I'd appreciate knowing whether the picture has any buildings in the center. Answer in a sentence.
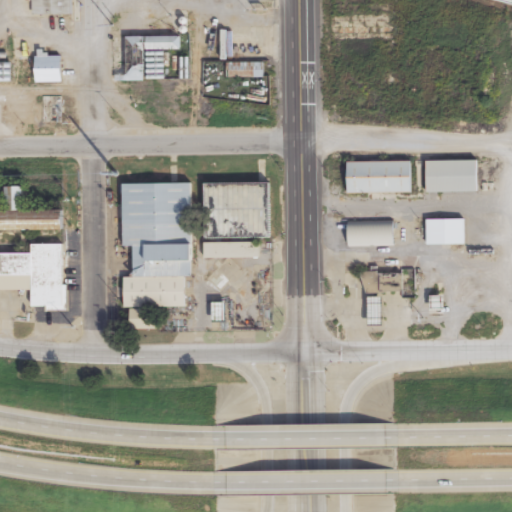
Yes, I can see a building in the center.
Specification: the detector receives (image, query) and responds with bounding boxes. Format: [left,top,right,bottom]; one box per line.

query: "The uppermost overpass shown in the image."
[218,423,394,449]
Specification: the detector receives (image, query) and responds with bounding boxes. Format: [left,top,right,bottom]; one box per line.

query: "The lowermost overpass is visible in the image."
[218,470,394,495]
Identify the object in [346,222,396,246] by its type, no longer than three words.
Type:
shed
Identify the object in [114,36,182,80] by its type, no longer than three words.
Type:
building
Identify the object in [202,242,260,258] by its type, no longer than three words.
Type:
building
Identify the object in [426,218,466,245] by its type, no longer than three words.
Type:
shed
